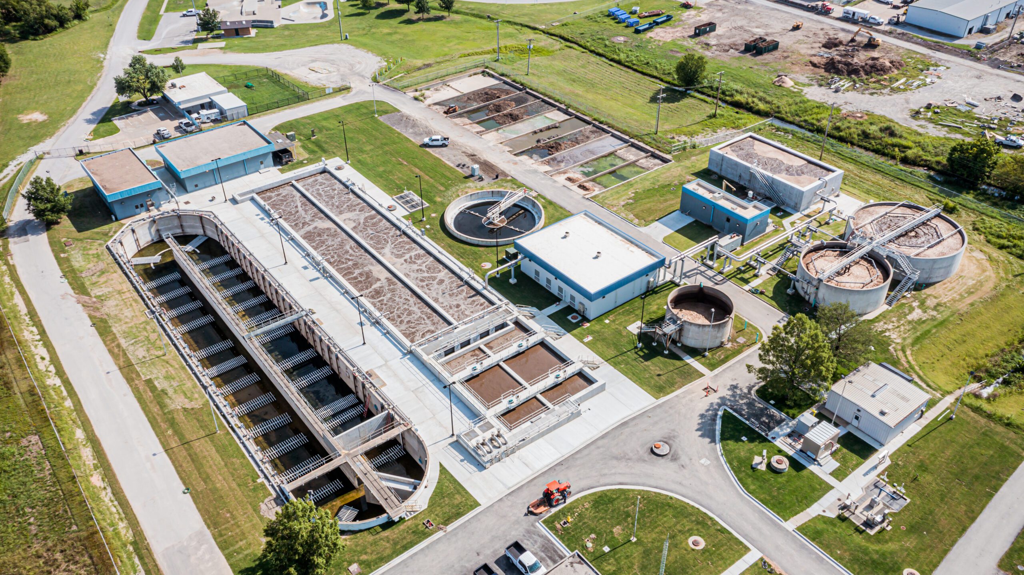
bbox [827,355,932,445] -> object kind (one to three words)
building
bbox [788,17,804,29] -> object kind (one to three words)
vehicle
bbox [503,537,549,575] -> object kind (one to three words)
truck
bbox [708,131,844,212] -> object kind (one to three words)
storage tank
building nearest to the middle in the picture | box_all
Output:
[514,210,665,319]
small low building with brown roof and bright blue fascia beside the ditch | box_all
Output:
[81,147,165,219]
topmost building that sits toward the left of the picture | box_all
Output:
[219,20,258,35]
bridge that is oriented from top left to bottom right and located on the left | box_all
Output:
[348,455,406,519]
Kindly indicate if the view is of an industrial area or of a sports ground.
industrial area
